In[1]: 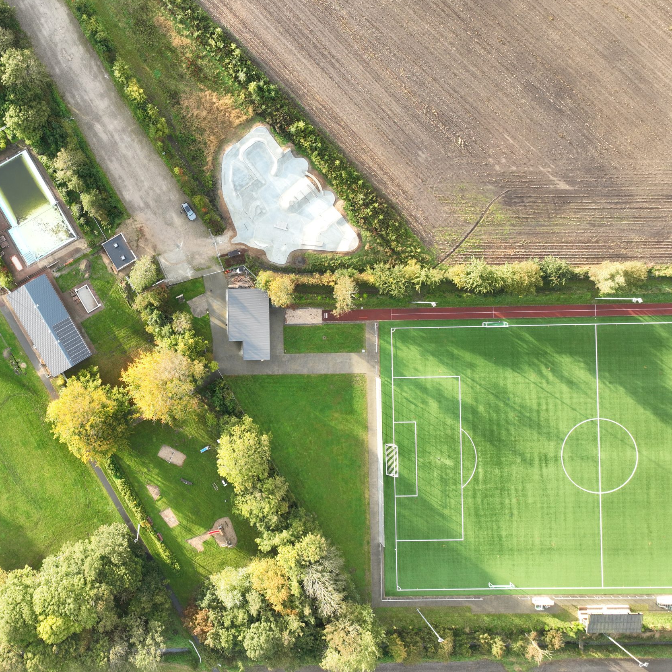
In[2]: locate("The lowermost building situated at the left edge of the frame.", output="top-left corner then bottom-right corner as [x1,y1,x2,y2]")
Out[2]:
[6,274,94,377]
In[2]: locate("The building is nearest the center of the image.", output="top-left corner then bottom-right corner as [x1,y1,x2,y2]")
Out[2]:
[226,289,270,362]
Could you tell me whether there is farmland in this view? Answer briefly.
Yes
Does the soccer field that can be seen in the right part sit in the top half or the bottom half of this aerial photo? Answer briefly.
bottom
